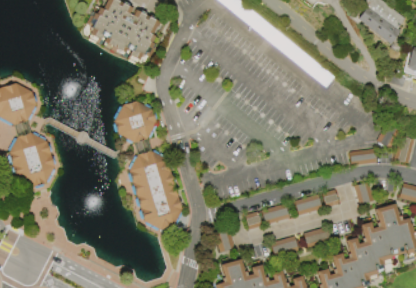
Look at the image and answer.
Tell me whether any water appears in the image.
Yes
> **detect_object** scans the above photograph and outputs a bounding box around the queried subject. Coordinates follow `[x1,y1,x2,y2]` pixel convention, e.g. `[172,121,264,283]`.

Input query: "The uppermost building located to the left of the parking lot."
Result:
[91,0,160,58]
